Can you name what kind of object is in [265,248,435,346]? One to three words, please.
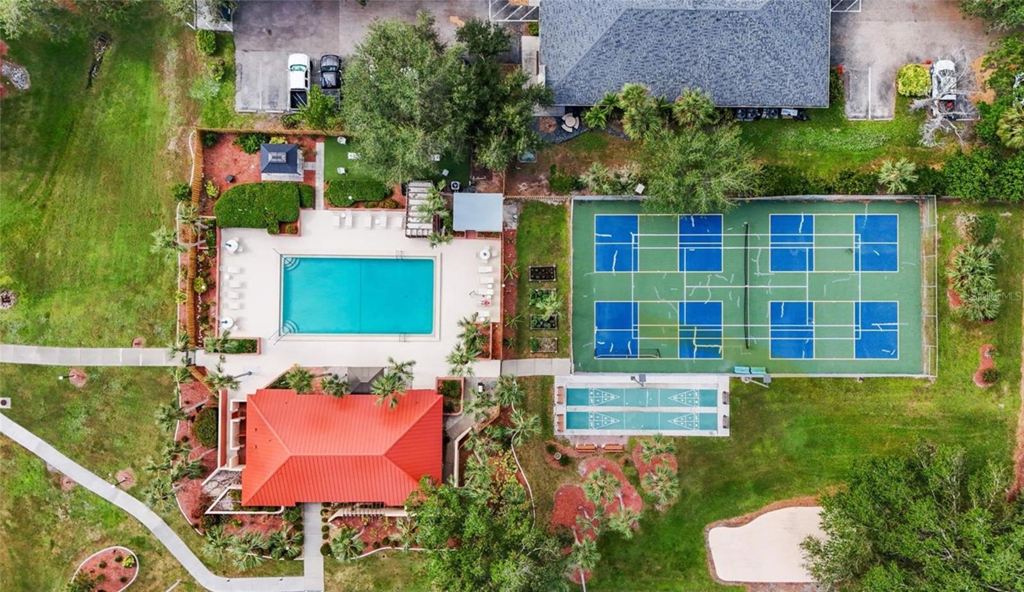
swimming pool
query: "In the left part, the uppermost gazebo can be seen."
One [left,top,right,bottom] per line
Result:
[260,144,300,173]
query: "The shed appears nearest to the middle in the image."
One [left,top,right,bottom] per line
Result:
[453,193,503,232]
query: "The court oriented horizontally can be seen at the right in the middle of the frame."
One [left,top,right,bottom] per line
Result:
[572,200,924,375]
